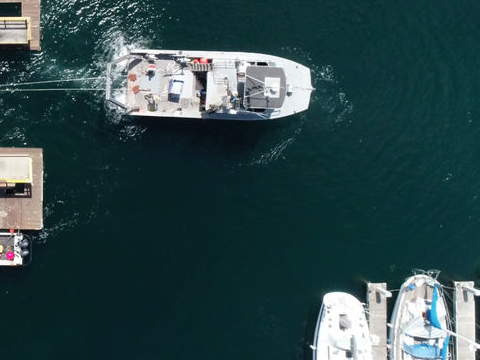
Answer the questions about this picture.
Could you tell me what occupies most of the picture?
water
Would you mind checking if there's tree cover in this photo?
No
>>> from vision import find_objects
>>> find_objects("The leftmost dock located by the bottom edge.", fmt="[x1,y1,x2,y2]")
[365,282,389,360]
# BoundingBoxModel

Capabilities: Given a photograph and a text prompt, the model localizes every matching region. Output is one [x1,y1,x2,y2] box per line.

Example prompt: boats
[309,292,373,360]
[107,51,314,119]
[0,231,32,266]
[386,270,480,360]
